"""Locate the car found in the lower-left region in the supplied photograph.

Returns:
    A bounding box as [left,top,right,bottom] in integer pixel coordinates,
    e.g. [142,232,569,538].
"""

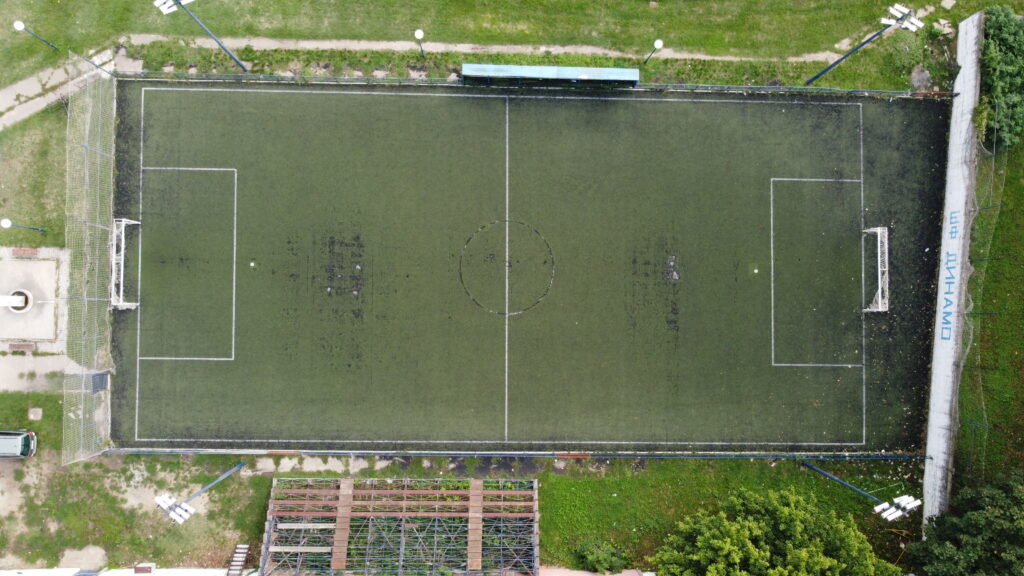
[0,430,39,457]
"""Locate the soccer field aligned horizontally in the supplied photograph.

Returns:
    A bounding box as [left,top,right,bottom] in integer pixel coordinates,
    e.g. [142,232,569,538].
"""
[110,83,954,453]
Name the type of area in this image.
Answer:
sports ground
